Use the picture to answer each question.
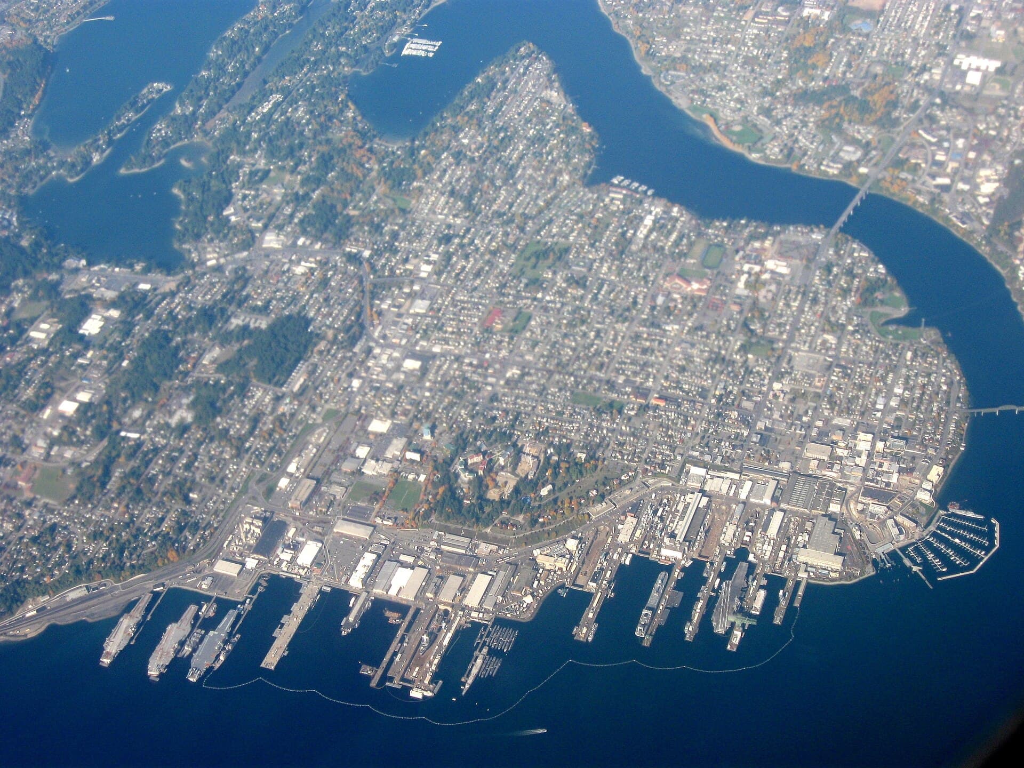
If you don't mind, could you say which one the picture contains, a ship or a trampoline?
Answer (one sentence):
There is a ship in the scene.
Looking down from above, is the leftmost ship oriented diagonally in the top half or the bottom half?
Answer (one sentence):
Seen from above, the leftmost ship oriented diagonally lies in the bottom half of the view.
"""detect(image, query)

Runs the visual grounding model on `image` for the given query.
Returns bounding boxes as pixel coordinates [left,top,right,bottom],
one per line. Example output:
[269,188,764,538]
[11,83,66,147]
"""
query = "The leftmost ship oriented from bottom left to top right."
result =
[101,593,152,664]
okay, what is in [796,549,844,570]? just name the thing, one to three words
building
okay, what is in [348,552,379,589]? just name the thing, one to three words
building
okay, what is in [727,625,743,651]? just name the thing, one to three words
ship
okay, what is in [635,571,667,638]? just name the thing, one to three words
ship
